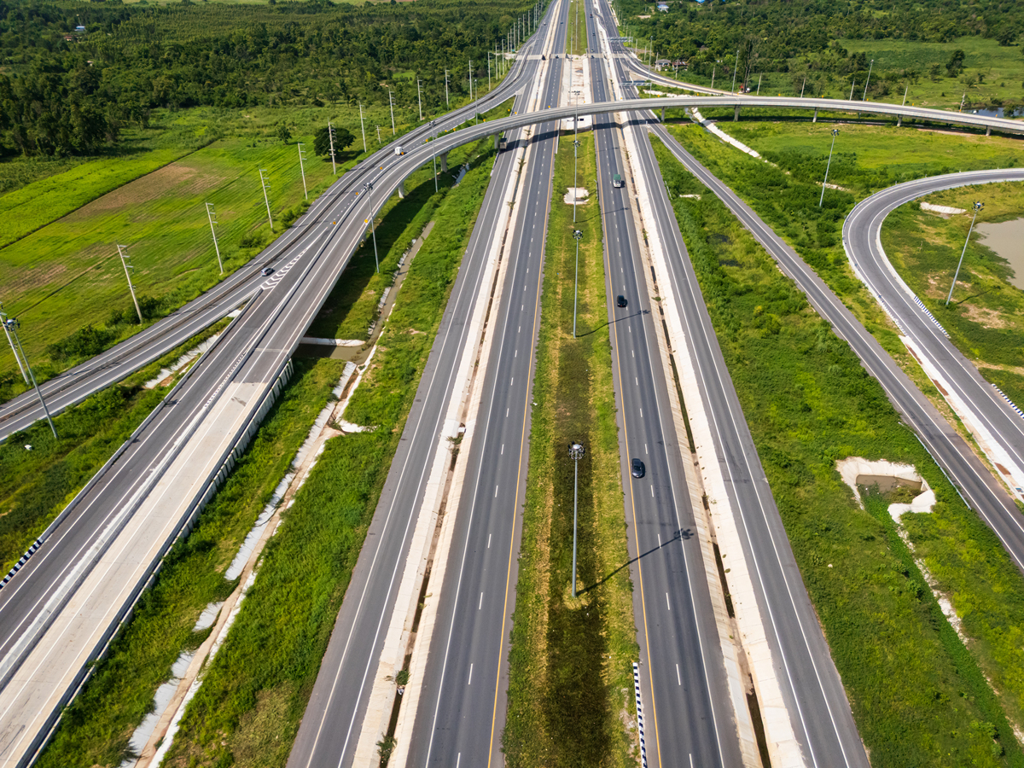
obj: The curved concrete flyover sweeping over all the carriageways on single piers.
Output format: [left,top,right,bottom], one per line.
[224,96,1024,388]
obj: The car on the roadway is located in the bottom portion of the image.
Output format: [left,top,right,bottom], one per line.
[633,456,646,475]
